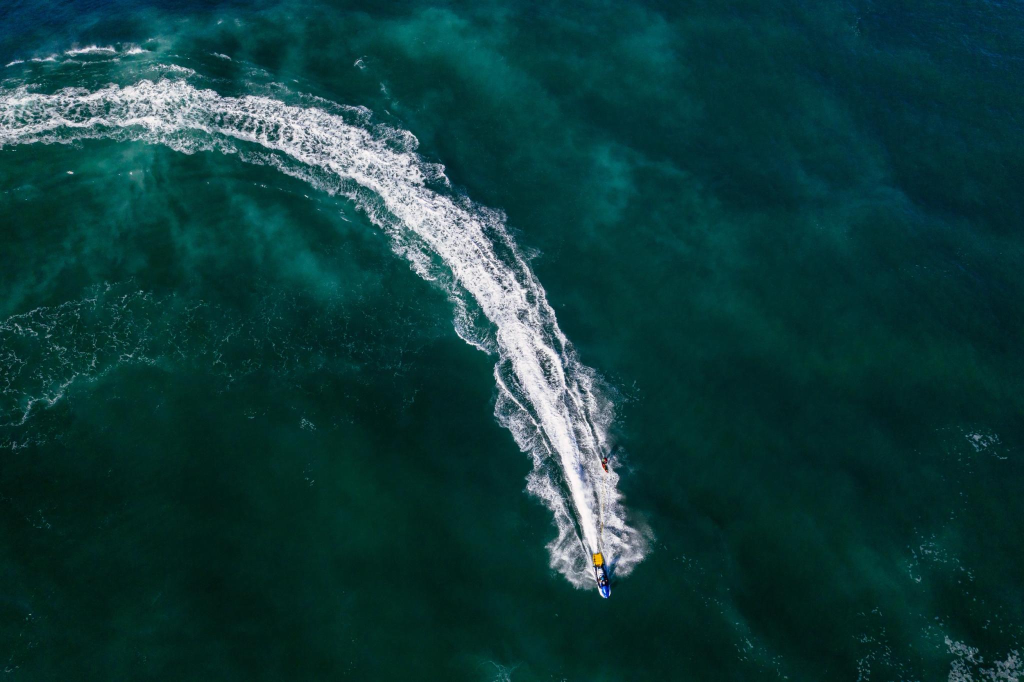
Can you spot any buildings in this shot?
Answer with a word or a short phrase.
No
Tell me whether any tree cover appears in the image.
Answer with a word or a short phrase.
No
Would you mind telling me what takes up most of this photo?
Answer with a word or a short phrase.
water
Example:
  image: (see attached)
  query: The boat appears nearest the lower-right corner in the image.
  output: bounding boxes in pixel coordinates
[595,565,609,598]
